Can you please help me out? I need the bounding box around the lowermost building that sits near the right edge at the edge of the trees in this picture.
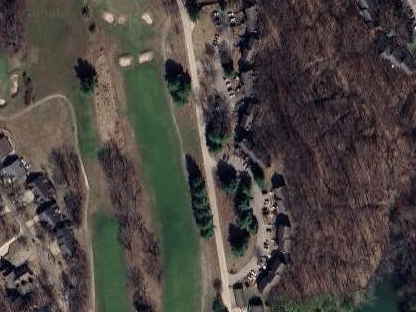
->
[382,48,412,77]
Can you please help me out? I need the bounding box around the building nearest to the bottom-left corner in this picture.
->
[1,269,34,291]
